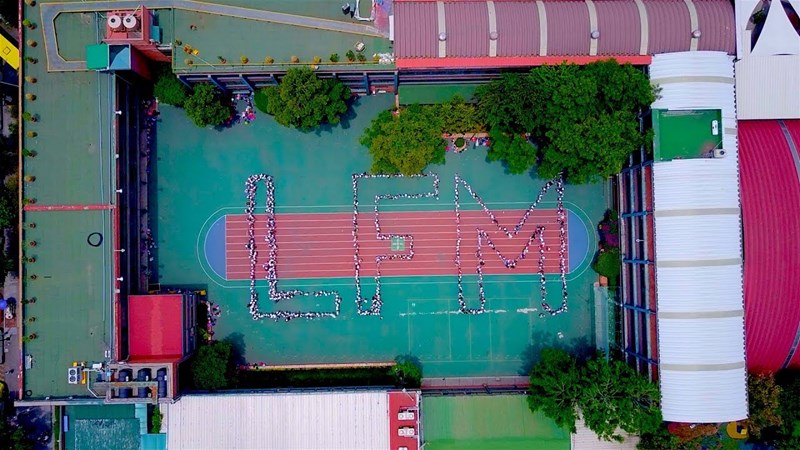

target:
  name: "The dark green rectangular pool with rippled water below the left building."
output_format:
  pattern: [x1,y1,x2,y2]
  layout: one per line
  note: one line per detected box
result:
[69,402,147,450]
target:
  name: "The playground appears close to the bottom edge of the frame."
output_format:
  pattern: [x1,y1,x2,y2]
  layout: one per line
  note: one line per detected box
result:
[656,414,770,450]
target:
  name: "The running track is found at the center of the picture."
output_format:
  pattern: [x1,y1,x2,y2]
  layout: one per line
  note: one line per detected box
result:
[197,201,598,288]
